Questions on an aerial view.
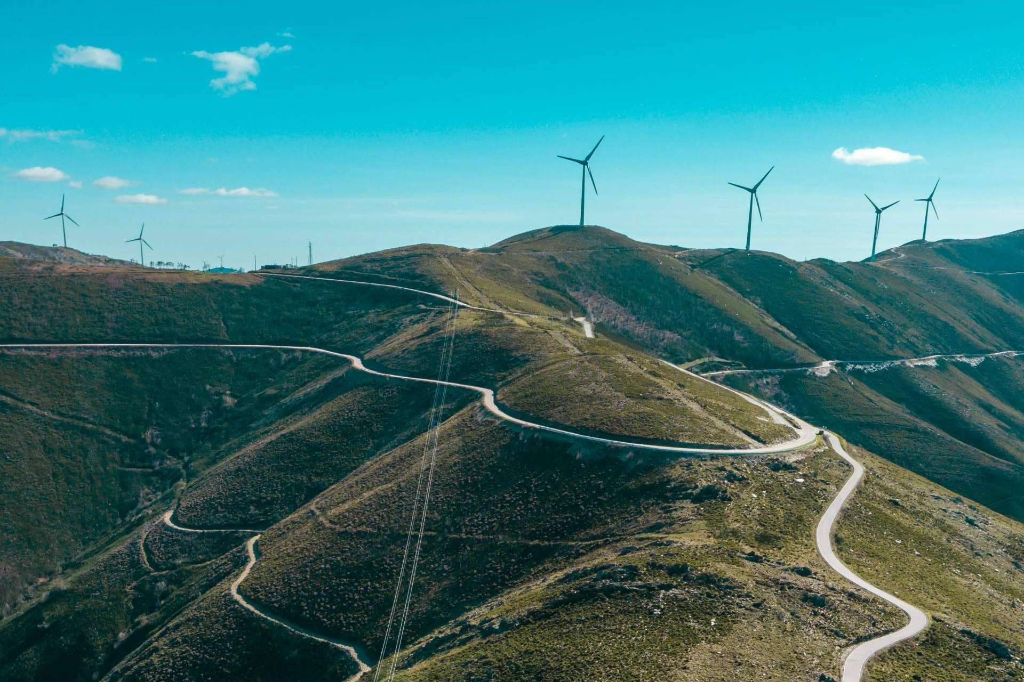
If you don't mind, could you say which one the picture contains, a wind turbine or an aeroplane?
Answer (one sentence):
Looking from above, you can make out a wind turbine.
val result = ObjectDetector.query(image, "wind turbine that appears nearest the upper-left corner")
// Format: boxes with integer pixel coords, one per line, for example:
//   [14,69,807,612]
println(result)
[42,195,80,247]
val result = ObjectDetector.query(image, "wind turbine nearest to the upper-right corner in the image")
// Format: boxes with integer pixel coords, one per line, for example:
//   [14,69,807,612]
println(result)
[908,177,938,240]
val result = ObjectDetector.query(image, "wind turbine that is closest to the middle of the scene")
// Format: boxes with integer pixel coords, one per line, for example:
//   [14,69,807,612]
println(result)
[554,130,603,227]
